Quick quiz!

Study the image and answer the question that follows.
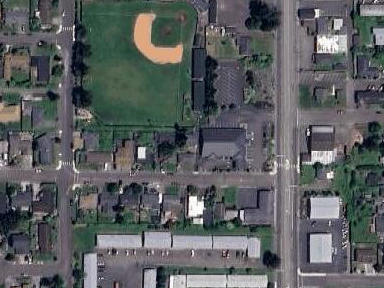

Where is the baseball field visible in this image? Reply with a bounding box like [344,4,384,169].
[82,1,197,126]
